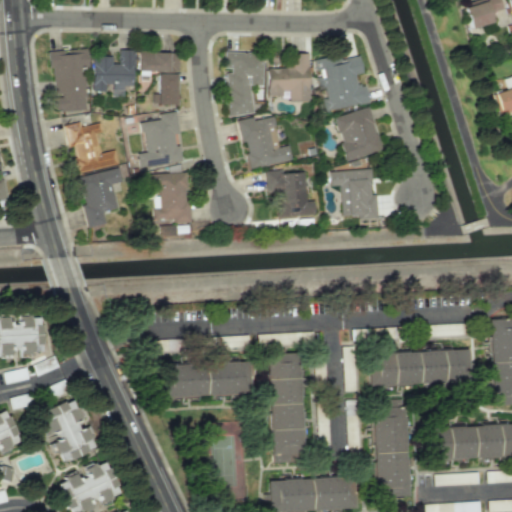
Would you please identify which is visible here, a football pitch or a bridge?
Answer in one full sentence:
There is a bridge in the scene.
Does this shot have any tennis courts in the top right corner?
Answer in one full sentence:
No, looking in the top right corner, there is no tennis court.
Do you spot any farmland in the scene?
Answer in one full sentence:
No, the picture contains no farmland.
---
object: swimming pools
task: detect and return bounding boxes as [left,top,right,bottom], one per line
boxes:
[277,102,296,114]
[18,454,44,471]
[323,128,336,151]
[326,192,336,214]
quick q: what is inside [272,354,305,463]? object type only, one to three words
building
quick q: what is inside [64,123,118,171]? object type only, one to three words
house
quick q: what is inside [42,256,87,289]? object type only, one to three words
bridge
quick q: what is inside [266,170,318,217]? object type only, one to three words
house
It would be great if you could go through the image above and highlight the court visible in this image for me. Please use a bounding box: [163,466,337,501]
[208,422,246,502]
